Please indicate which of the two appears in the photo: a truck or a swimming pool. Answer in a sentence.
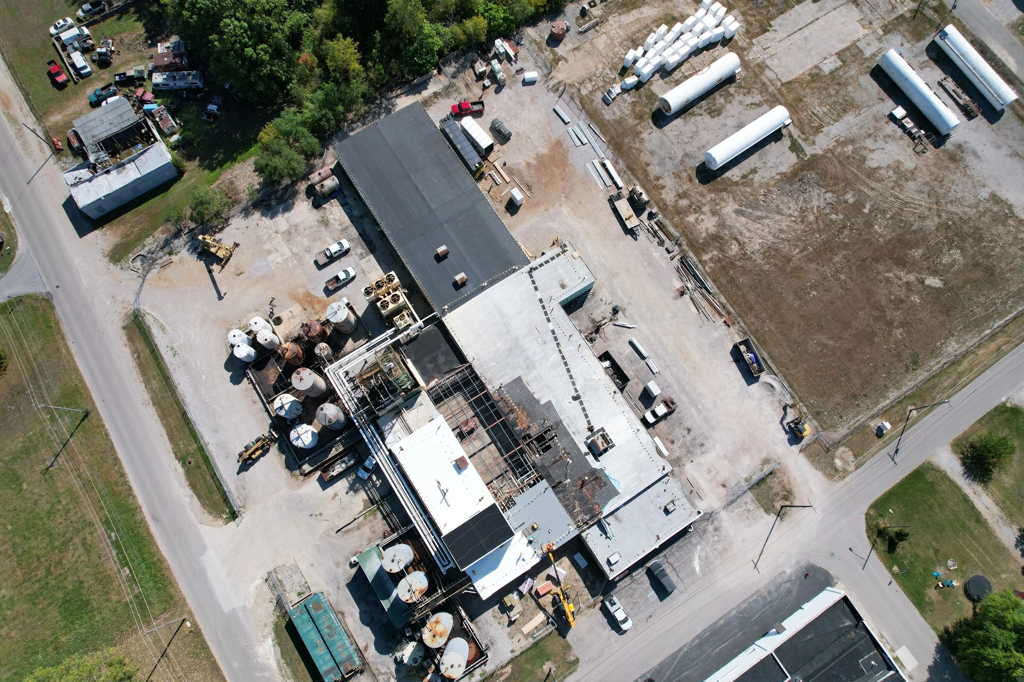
Looking from above, you can make out a truck.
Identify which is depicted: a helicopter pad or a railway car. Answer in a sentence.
Of the two, only a railway car appears.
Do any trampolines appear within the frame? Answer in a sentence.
Yes, the image includes a trampoline.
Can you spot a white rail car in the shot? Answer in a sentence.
No, no white rail car is visible in the view.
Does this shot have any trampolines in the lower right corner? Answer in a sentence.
Yes, in the lower right corner there is a trampoline.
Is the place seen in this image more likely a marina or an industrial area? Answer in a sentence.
This looks like an industrial area.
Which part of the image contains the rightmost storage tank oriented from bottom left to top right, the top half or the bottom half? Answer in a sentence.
The rightmost storage tank oriented from bottom left to top right is in the top half of the image.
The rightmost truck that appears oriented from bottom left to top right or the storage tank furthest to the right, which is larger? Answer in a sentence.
The truck is smaller than the storage tank.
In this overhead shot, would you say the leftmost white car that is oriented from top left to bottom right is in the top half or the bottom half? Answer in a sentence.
The top half of the photo is where the leftmost white car that is oriented from top left to bottom right is.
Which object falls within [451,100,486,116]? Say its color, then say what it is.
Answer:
red vehicle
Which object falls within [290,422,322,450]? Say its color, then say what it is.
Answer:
white storage tank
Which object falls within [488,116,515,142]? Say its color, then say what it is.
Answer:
gray car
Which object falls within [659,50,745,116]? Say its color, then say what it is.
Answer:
white storage tank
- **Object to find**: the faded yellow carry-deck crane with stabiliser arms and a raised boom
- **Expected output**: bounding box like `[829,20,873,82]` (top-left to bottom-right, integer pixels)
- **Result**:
[202,228,249,267]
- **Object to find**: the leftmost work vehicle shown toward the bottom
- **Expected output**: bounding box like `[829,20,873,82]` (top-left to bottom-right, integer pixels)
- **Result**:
[241,424,287,463]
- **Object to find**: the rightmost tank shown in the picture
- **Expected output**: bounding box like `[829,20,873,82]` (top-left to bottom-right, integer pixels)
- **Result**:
[933,23,1020,112]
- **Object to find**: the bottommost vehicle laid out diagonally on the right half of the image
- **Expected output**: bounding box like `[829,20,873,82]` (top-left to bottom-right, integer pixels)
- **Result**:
[605,595,635,632]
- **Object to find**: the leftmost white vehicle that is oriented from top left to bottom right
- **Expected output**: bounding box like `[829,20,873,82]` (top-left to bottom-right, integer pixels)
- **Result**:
[69,51,95,79]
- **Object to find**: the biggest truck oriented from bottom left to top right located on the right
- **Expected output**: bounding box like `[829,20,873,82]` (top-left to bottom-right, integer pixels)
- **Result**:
[645,394,682,425]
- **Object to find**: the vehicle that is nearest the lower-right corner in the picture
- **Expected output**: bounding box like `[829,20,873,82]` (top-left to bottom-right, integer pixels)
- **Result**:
[779,407,815,444]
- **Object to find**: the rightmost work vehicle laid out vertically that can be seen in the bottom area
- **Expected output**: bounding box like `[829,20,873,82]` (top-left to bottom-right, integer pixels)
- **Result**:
[550,546,580,626]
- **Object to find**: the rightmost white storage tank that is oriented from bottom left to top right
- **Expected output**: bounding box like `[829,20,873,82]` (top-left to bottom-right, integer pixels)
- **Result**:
[704,102,794,170]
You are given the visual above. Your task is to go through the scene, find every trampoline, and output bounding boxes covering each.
[963,574,992,601]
